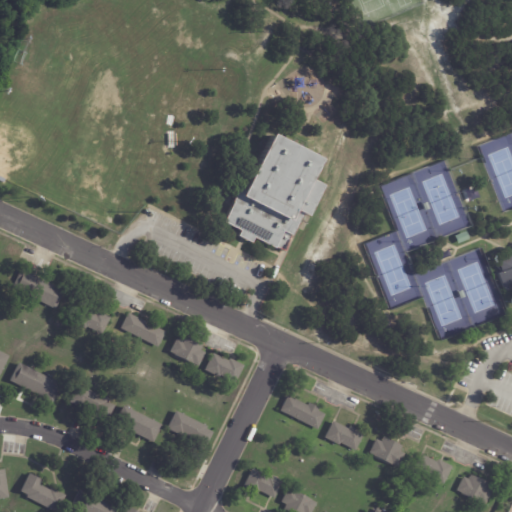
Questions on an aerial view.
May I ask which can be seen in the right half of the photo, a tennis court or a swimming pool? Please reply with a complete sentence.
Looking in the right half of the photo, you will find a tennis court.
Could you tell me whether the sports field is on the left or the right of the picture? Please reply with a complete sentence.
The sports field appears in the left half of the scene.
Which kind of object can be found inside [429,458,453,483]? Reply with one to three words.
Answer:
house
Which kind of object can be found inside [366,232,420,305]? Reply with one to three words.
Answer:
tennis court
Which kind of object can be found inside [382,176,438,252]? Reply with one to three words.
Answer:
tennis court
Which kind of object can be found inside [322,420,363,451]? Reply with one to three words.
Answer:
house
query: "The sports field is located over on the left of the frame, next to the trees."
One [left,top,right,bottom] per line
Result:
[0,2,240,230]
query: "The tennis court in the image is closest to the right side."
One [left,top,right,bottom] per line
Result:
[480,132,512,212]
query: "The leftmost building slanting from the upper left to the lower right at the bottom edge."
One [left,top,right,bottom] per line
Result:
[20,470,68,512]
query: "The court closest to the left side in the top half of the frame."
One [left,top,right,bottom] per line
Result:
[353,0,391,22]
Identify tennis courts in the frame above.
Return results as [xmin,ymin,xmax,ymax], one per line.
[382,176,438,252]
[448,250,501,323]
[480,132,512,212]
[412,163,469,238]
[353,0,391,22]
[416,264,472,336]
[366,232,420,305]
